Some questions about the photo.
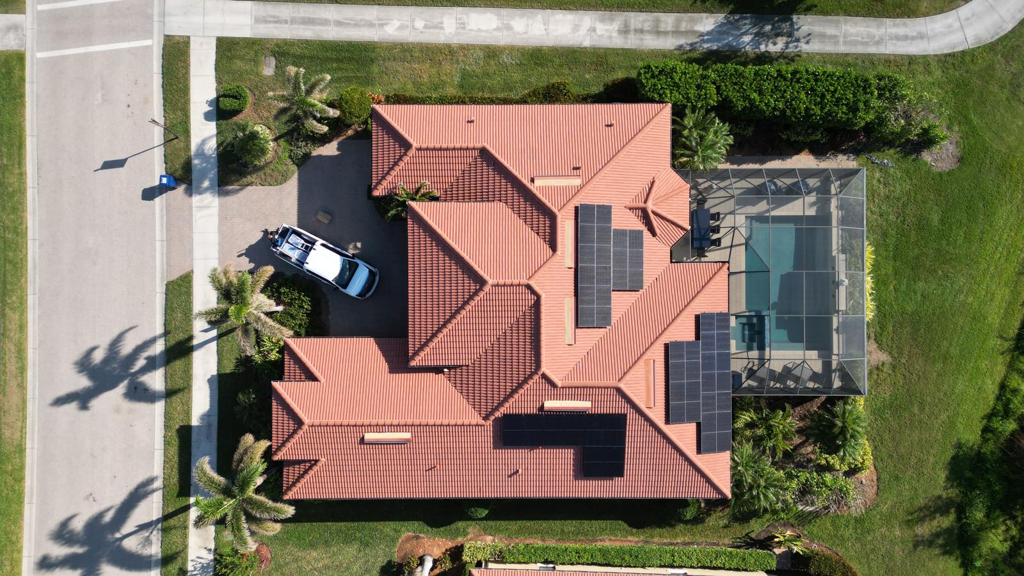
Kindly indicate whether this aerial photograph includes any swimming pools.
Yes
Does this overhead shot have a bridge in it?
No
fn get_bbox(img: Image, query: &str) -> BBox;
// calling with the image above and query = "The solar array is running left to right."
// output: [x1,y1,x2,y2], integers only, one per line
[498,416,631,480]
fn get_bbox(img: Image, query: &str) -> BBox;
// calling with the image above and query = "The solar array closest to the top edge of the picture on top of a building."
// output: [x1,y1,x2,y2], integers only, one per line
[580,199,647,331]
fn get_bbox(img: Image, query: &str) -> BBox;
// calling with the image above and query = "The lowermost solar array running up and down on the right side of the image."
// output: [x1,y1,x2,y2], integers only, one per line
[671,309,734,458]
